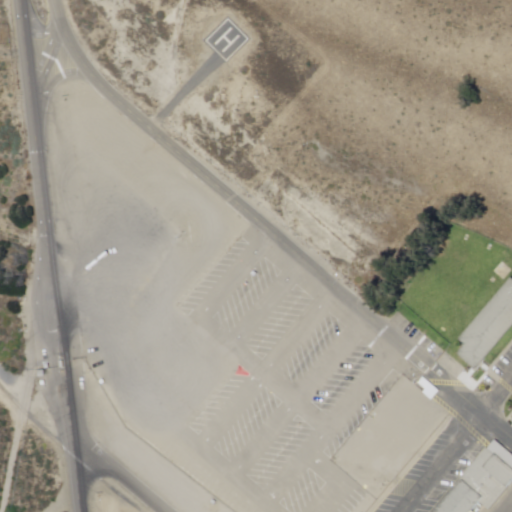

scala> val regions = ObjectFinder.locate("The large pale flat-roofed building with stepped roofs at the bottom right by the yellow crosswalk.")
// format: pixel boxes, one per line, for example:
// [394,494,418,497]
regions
[434,440,512,512]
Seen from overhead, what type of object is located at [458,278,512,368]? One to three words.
building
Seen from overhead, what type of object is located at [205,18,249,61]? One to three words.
helipad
